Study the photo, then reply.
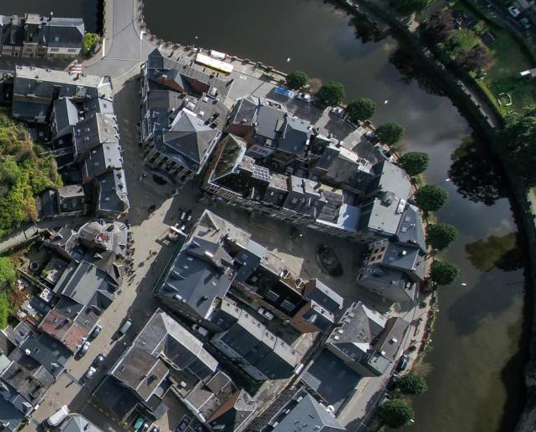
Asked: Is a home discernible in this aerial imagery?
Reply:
Yes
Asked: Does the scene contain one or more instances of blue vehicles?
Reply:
Yes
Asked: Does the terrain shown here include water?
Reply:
Yes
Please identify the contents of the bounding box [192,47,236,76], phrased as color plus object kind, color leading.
white bus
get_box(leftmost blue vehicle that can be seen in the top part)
[274,82,294,99]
